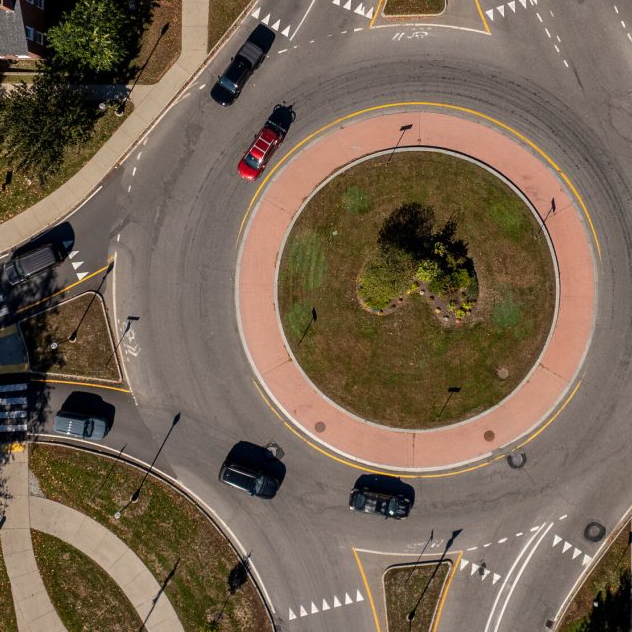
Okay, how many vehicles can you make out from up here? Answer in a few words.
6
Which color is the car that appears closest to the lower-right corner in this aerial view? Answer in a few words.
black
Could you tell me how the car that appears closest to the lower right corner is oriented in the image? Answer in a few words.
horizontally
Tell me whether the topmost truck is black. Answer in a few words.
Yes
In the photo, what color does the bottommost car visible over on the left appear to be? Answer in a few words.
black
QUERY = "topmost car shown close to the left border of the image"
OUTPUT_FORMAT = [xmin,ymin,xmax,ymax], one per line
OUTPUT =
[6,243,70,285]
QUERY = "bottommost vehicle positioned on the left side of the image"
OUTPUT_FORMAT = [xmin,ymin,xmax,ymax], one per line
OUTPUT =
[218,461,279,498]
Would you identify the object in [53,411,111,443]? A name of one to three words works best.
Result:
car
